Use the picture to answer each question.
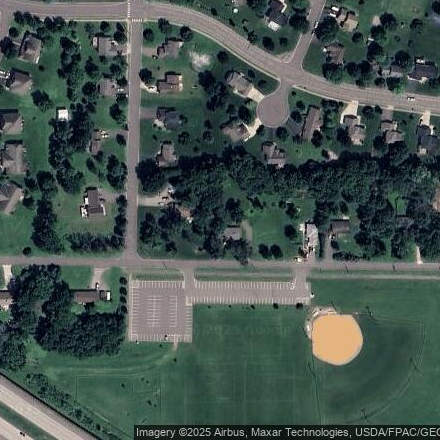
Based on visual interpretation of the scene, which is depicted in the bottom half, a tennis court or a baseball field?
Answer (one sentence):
What appears in the bottom half is a baseball field.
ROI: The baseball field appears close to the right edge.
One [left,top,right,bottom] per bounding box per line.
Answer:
[304,305,426,424]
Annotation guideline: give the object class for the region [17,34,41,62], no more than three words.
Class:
house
